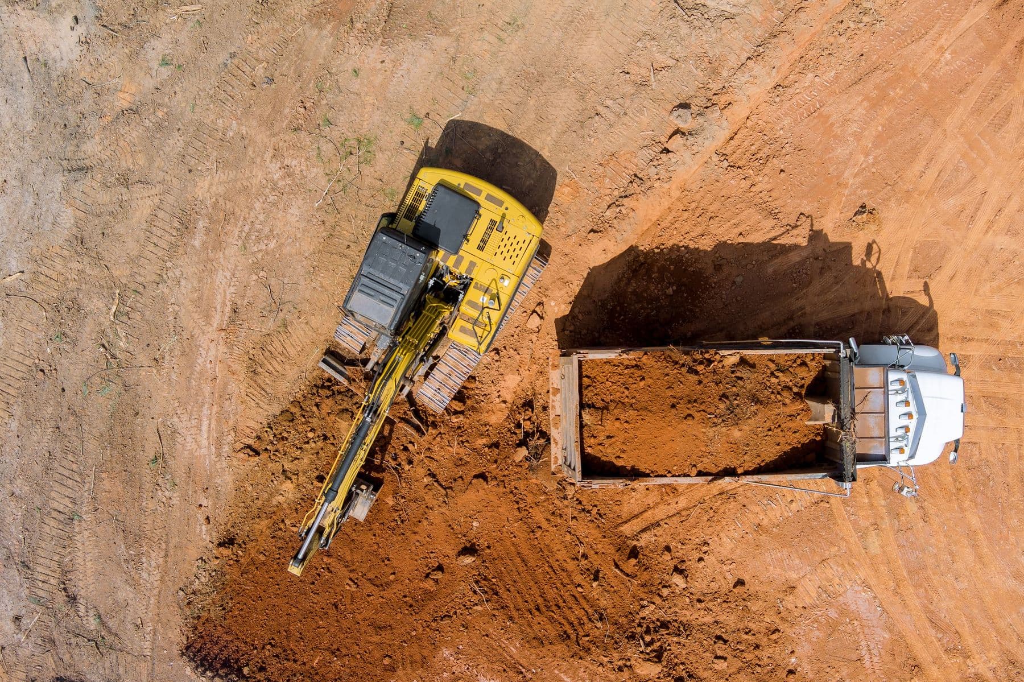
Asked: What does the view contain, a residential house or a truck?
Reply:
truck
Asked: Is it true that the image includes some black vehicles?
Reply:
No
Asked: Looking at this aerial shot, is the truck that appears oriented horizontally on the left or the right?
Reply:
right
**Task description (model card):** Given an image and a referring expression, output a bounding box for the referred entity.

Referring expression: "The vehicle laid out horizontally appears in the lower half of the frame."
[548,329,967,506]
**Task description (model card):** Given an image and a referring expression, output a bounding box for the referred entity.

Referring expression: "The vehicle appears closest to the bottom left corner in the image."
[285,168,547,578]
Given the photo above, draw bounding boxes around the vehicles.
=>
[548,329,967,506]
[285,168,547,578]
